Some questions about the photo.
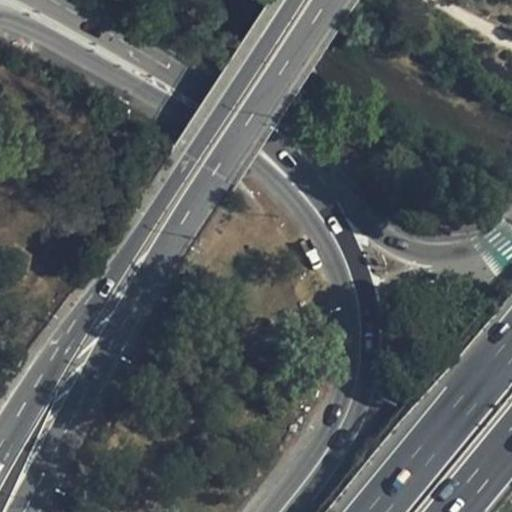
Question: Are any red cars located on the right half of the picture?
No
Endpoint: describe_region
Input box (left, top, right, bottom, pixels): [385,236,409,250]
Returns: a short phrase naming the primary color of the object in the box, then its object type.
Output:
gray car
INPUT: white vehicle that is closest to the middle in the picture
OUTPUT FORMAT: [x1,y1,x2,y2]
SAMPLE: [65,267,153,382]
[300,238,322,270]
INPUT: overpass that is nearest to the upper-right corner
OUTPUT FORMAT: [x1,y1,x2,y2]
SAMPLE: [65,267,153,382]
[174,0,357,192]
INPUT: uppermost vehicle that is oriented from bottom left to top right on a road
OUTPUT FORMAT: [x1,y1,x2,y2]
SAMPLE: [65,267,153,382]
[99,277,116,297]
